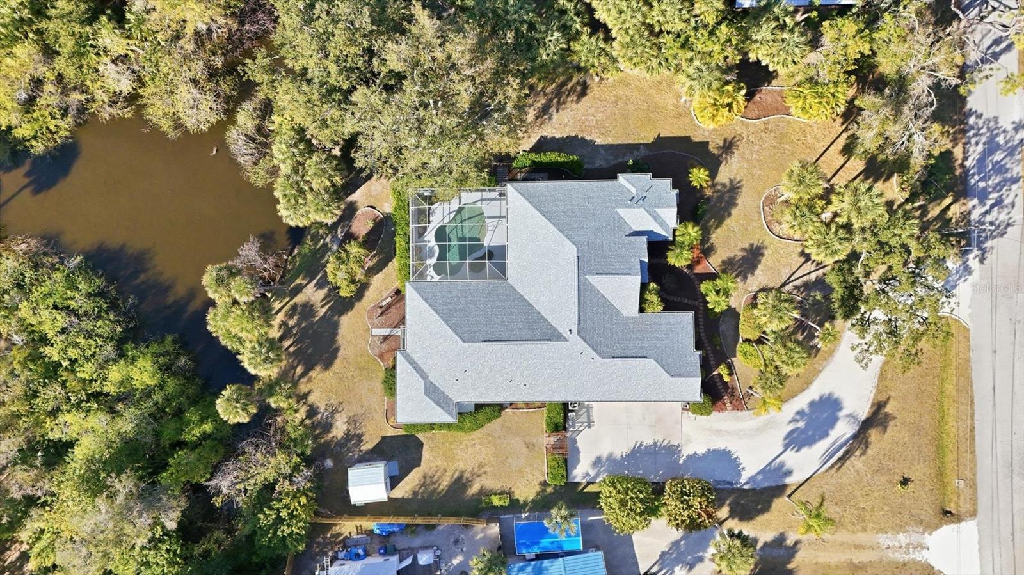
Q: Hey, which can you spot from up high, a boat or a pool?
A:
pool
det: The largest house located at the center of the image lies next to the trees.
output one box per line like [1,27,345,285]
[396,173,704,424]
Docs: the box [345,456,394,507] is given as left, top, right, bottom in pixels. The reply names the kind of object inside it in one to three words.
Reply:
shed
